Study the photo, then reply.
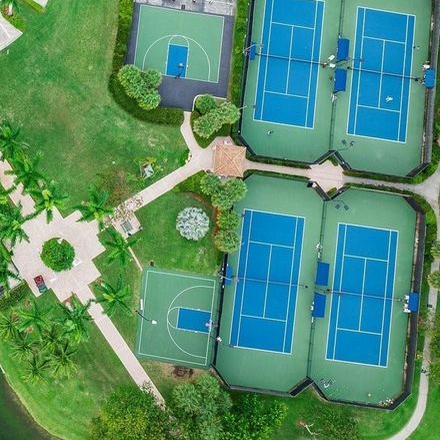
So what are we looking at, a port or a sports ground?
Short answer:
sports ground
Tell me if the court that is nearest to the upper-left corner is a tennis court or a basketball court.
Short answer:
basketball court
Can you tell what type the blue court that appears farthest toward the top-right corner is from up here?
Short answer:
tennis court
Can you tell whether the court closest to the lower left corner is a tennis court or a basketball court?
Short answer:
basketball court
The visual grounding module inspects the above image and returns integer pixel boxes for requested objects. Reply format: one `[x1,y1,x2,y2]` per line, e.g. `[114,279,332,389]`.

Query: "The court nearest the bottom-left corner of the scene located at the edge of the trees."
[135,268,224,369]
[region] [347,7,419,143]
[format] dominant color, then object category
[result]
blue tennis court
